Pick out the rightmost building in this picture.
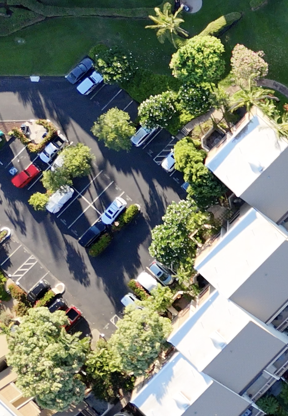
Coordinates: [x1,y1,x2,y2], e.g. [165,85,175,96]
[129,111,288,416]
